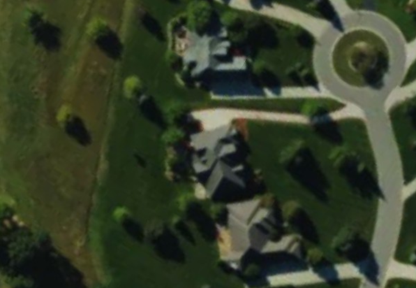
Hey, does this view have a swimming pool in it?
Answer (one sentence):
No, the picture doesn't show any swimming pool.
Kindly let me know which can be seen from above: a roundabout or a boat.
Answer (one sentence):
I can see a roundabout in this picture.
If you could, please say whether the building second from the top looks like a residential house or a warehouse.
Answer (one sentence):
I'd say the building second from the top is a residential house.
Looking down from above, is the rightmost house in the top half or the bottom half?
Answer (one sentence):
The rightmost house sits in the bottom half of the picture.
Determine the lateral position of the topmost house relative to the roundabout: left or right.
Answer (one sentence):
The topmost house appears to the left of the roundabout in this view.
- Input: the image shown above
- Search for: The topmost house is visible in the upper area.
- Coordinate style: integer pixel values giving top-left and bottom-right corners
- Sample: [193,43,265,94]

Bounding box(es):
[175,26,249,83]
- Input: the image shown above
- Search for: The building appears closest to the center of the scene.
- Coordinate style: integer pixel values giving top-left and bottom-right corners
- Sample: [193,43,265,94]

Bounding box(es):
[188,118,259,205]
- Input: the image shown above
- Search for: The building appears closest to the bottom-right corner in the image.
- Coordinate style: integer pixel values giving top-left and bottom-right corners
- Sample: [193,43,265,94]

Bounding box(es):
[225,193,311,263]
